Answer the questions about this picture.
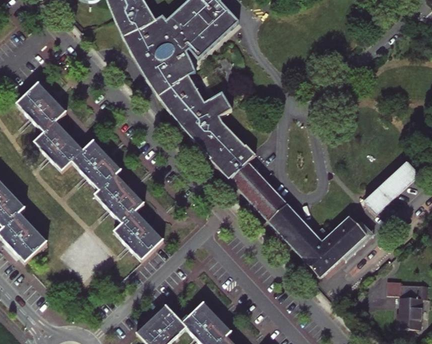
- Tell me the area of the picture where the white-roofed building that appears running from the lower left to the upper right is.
right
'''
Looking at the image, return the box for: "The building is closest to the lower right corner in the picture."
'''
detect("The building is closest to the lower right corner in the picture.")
[386,283,428,332]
